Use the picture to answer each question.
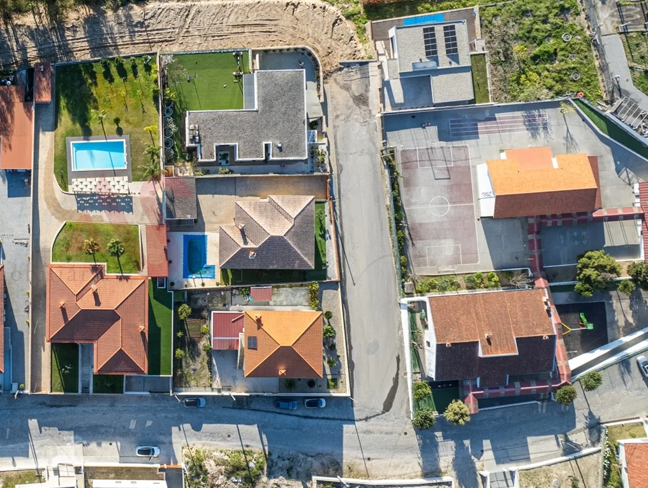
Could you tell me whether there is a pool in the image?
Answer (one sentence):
Yes, this view includes a pool.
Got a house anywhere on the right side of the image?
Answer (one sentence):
Yes, the scene does show a house on the right side of the image.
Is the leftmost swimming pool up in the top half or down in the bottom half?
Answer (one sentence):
The leftmost swimming pool sits in the top half of the picture.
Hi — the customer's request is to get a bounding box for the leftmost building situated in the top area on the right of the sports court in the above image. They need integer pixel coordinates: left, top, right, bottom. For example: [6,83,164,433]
[471,147,600,219]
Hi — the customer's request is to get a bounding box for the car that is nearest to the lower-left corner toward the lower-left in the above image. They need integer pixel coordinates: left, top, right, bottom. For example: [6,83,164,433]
[135,445,159,458]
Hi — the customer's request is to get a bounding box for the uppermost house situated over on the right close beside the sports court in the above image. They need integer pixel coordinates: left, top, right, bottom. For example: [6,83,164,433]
[374,20,485,105]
